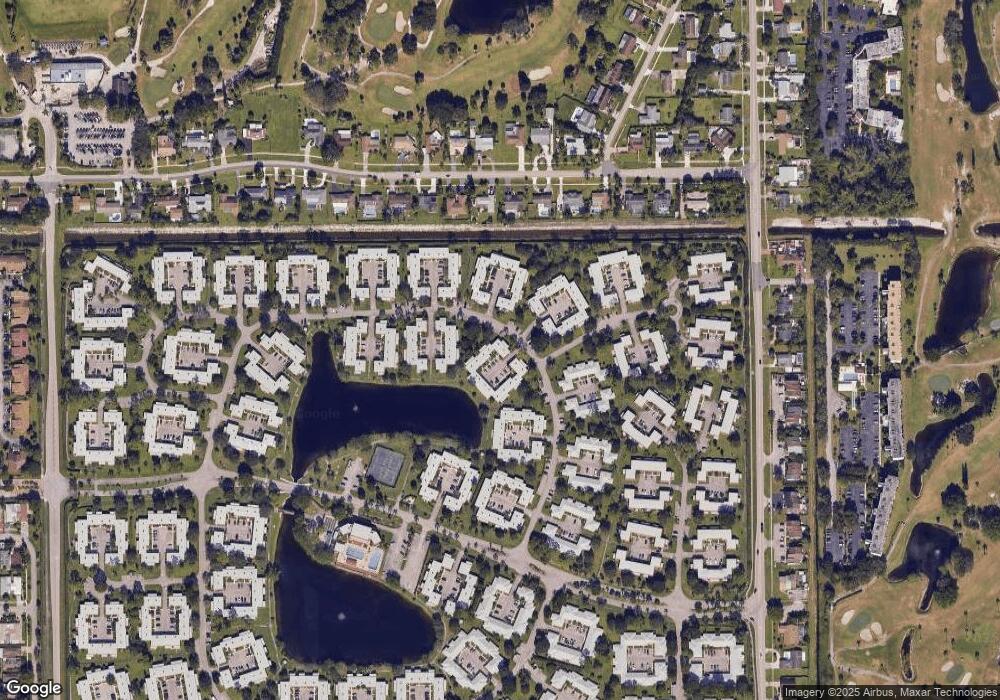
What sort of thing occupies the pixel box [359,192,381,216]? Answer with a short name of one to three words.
house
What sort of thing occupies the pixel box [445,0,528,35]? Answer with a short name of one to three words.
pond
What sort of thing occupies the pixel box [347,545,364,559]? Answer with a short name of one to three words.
swimming pool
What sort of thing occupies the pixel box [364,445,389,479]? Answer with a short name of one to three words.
tennis court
